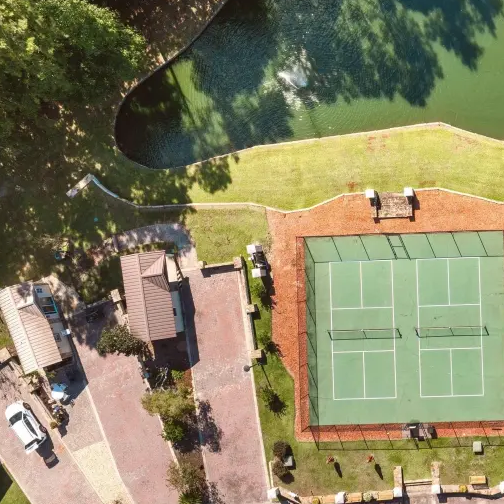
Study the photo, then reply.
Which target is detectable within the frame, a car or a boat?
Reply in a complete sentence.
There is a car in the scene.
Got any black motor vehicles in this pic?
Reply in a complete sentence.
No, there appears to be no black motor vehicle in this shot.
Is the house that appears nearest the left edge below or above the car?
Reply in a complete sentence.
Looking at the scene, the house that appears nearest the left edge is located above the car.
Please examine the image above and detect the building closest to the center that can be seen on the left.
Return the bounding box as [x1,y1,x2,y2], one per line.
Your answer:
[119,249,185,347]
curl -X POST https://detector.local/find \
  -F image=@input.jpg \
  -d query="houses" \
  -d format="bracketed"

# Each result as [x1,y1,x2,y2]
[0,279,77,377]
[119,249,185,347]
